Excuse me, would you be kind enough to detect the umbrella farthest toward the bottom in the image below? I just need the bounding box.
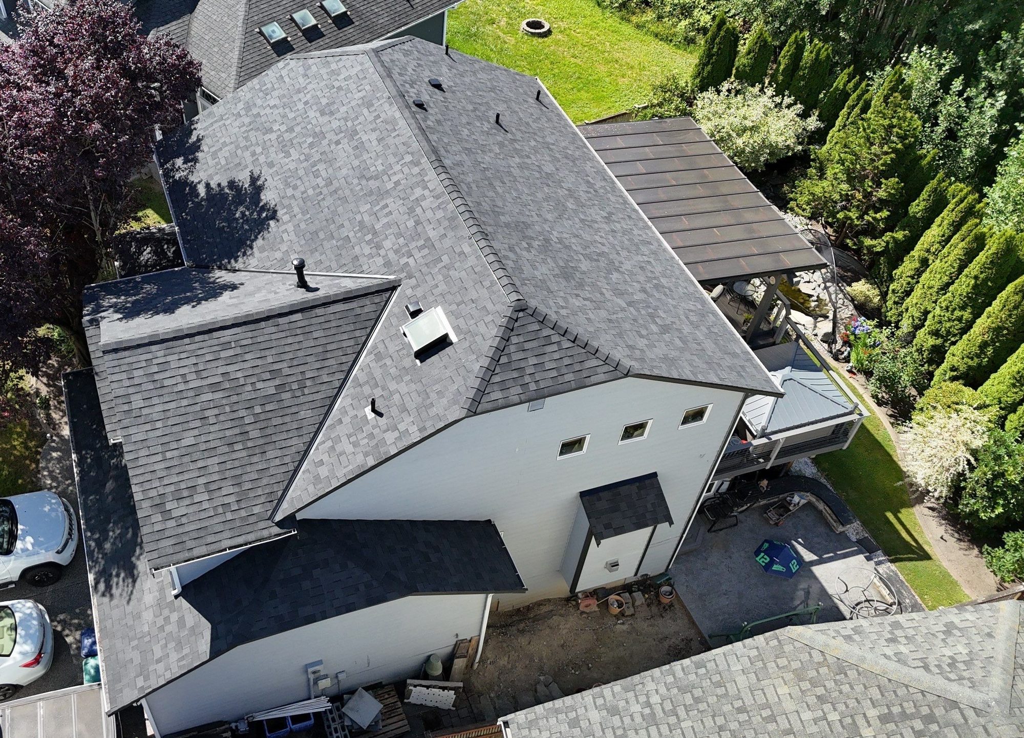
[748,536,798,586]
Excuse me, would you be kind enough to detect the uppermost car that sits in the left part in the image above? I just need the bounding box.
[0,490,81,596]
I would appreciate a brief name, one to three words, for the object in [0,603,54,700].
car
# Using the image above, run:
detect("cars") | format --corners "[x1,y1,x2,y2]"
[0,603,54,700]
[0,490,81,596]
